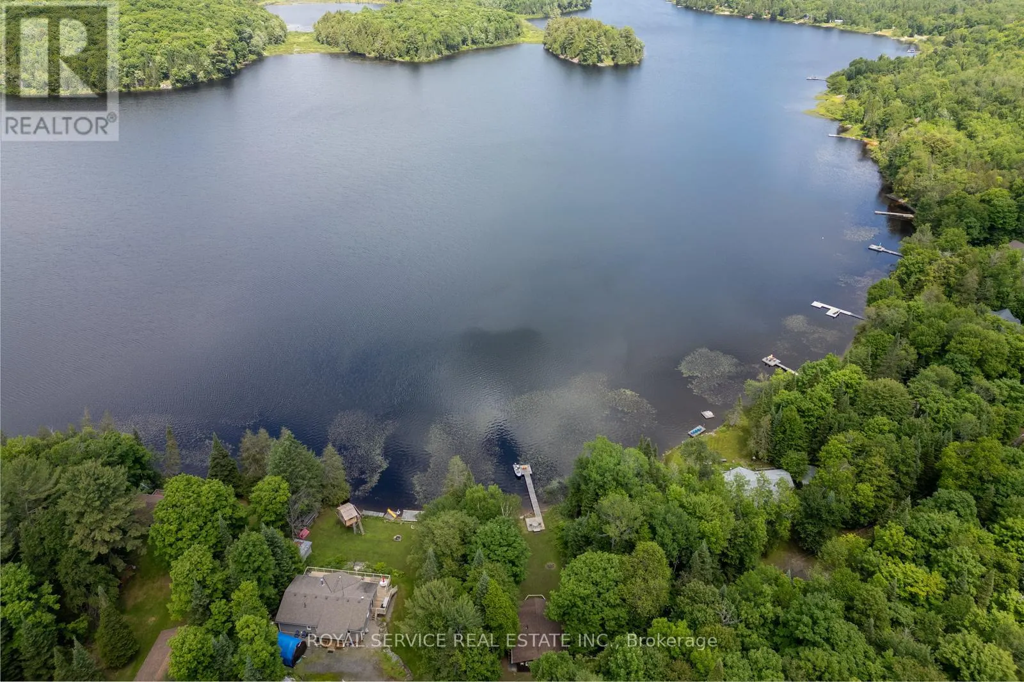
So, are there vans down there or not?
No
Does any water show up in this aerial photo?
Yes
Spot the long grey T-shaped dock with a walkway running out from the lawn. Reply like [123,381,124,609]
[521,461,545,515]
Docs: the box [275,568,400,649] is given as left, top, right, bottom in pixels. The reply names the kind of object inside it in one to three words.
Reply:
house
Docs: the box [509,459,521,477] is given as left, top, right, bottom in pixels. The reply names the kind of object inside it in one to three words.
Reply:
boat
